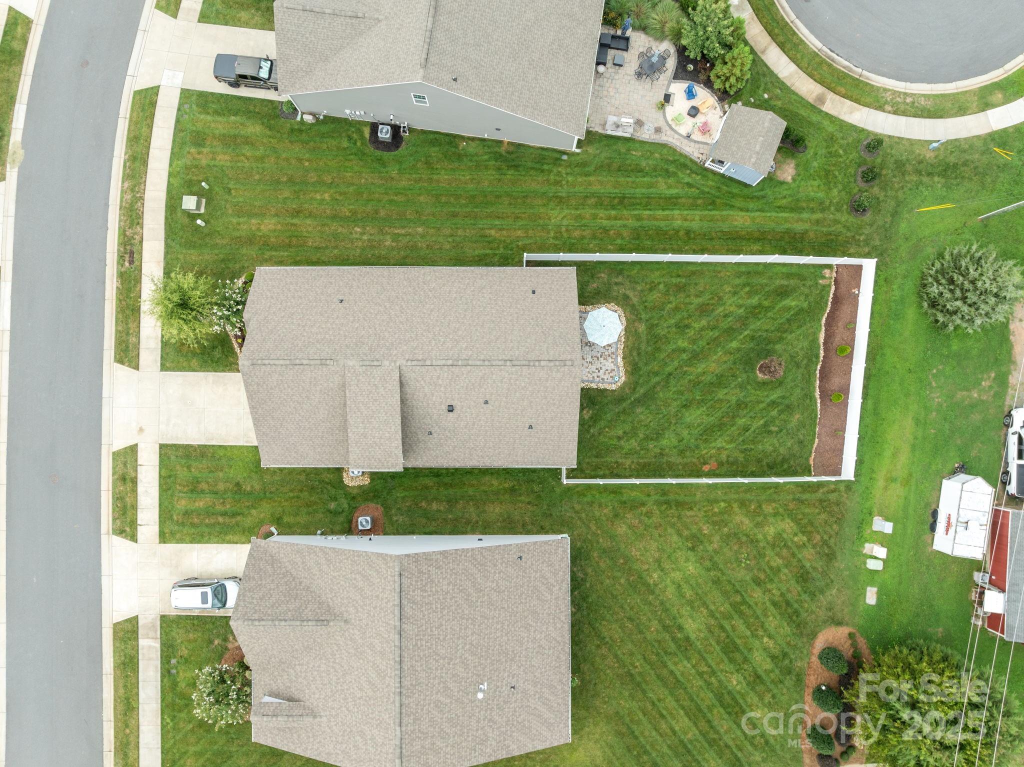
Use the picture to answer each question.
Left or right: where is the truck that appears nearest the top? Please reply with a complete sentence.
The truck that appears nearest the top is on the left side of the image.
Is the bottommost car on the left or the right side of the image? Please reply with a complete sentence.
You can find the bottommost car on the left side of the picture.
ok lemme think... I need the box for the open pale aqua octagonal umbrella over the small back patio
[583,309,622,347]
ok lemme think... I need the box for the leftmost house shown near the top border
[273,0,605,157]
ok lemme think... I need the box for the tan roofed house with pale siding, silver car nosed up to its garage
[231,520,571,767]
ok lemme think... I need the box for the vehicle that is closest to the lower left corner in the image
[173,579,242,612]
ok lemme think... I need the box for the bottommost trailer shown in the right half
[932,459,993,560]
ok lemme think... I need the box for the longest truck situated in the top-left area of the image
[213,53,279,92]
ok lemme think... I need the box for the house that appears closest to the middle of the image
[240,265,581,472]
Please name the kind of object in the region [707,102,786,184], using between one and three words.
shed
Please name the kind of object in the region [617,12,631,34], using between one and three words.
umbrella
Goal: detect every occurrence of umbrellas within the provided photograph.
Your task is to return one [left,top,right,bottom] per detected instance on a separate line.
[583,309,622,347]
[617,12,631,34]
[650,46,661,61]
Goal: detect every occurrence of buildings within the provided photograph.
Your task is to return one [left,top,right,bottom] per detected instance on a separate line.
[707,102,786,184]
[240,265,581,472]
[273,0,605,157]
[231,520,571,767]
[960,507,1024,644]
